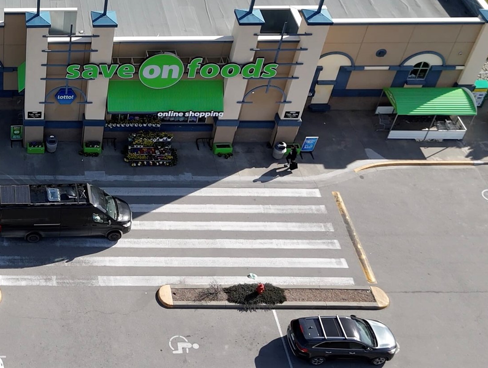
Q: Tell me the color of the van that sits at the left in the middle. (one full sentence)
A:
The van that sits at the left in the middle is black.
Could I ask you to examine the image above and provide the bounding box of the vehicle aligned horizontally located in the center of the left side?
[0,184,132,241]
